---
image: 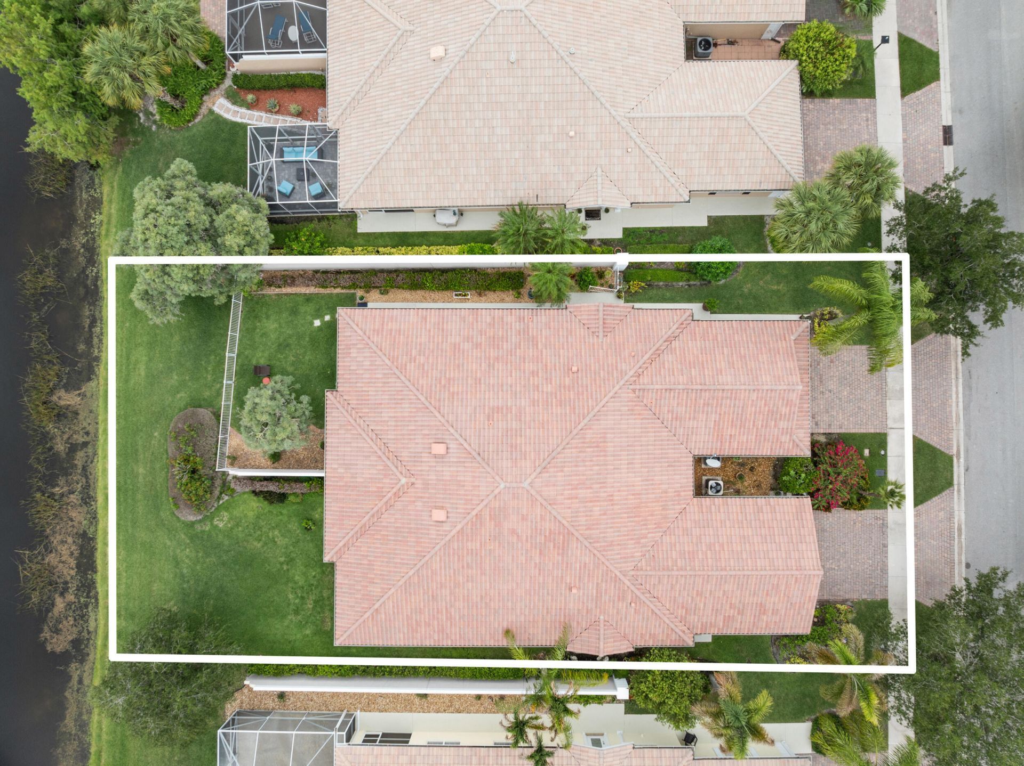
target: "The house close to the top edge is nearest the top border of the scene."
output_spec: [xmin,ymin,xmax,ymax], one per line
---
[324,0,807,217]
